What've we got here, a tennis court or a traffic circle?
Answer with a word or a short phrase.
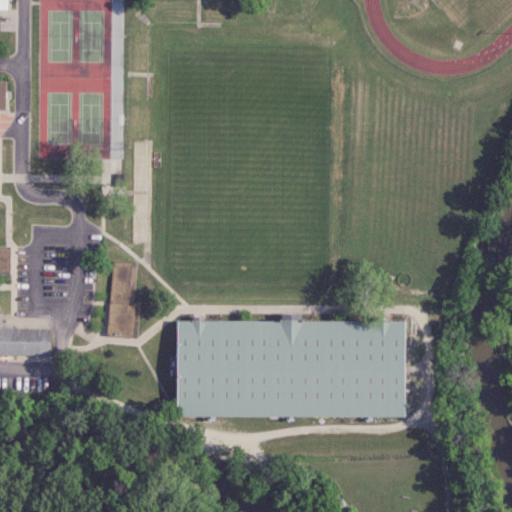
tennis court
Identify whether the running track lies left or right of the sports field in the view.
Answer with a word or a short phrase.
on the right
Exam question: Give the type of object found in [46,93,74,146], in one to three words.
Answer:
tennis court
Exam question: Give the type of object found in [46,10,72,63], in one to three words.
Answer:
tennis court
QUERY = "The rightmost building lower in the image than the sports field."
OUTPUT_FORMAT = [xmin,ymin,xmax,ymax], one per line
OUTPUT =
[178,315,406,422]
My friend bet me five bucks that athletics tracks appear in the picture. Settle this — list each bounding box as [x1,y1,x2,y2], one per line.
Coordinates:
[364,0,512,76]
